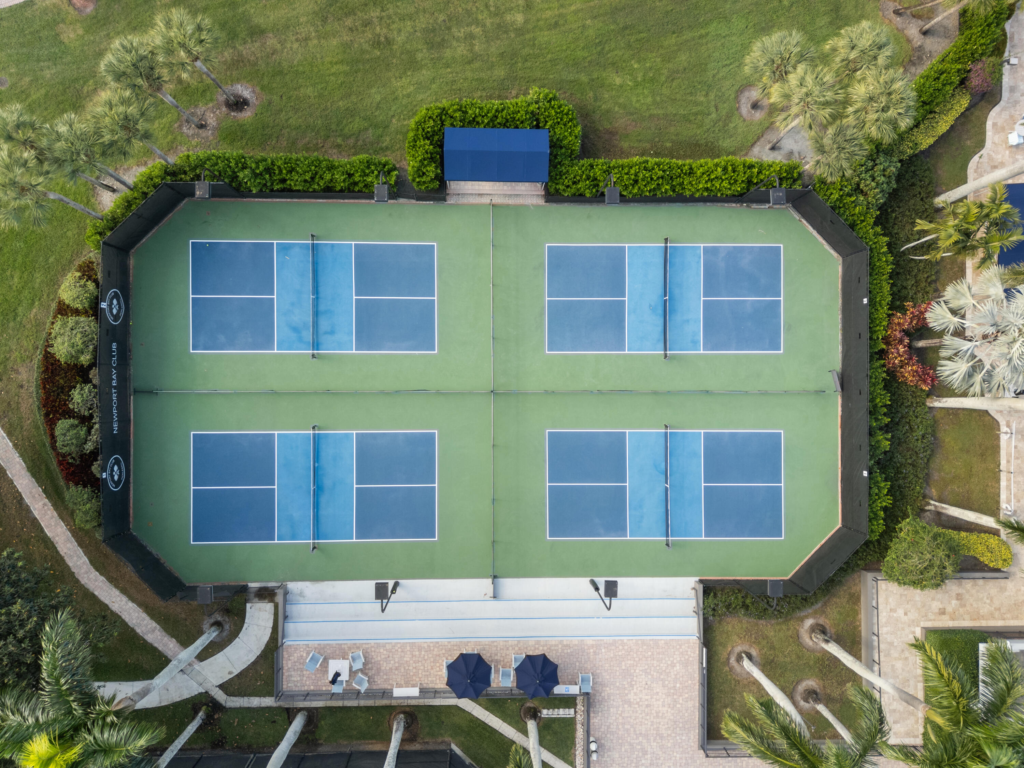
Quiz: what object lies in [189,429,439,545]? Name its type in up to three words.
sports court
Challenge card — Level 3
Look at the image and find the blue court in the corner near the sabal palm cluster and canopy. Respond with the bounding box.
[544,242,785,355]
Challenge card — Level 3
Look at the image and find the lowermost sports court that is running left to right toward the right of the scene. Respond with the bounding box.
[545,428,786,541]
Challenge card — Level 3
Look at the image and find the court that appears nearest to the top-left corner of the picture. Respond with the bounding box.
[188,238,439,355]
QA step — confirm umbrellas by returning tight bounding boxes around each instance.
[514,653,560,699]
[447,654,491,698]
